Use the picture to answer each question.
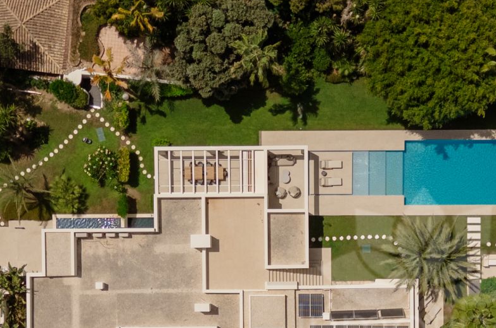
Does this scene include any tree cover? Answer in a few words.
Yes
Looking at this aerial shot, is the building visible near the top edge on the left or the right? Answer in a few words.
left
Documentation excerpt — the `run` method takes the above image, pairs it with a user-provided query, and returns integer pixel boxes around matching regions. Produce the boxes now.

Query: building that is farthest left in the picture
[0,0,82,78]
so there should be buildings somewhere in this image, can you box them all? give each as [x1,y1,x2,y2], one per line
[0,0,82,78]
[27,146,419,328]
